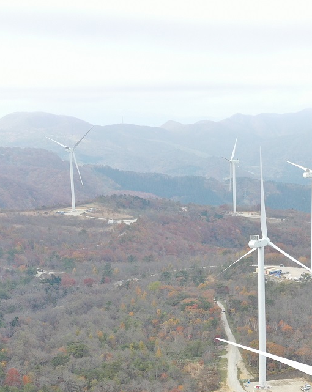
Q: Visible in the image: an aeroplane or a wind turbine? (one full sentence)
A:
There is a wind turbine in the scene.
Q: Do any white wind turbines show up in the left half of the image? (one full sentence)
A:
Yes, the scene does show a white wind turbine in the left half of the image.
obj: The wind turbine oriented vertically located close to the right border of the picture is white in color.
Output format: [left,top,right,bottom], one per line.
[213,146,312,388]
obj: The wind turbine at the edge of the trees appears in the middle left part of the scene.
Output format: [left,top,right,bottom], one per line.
[45,125,94,210]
